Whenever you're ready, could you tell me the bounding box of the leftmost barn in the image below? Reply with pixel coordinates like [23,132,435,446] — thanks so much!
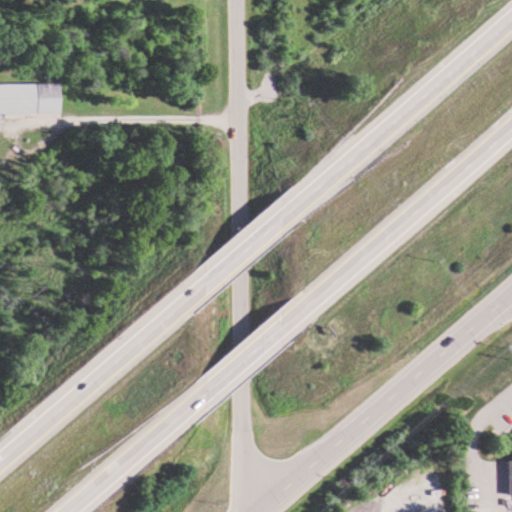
[0,83,38,114]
